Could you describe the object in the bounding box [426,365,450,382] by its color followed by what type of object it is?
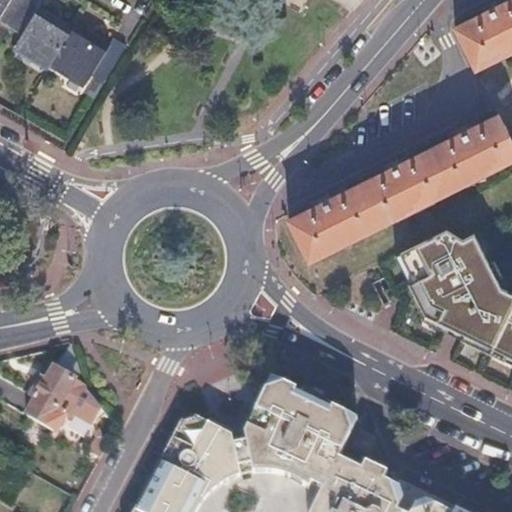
gray car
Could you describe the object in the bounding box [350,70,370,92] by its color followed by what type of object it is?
gray car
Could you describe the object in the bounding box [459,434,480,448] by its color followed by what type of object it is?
white car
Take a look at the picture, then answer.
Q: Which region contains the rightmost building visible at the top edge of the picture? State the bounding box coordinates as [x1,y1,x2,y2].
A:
[453,0,512,74]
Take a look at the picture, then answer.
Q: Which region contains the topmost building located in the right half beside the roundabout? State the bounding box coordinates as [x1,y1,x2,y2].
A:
[289,114,512,265]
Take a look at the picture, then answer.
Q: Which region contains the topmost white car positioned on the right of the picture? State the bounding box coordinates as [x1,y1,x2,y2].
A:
[348,34,366,54]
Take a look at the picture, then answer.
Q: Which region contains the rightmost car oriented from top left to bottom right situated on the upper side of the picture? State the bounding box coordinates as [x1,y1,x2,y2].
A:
[130,0,148,18]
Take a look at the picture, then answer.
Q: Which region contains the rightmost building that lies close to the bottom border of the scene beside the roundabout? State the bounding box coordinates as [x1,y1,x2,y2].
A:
[243,376,472,512]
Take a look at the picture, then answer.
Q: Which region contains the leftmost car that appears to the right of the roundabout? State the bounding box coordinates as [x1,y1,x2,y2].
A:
[282,328,302,344]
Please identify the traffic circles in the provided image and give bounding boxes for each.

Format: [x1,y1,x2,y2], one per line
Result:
[84,169,268,351]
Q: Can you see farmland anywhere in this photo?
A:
No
